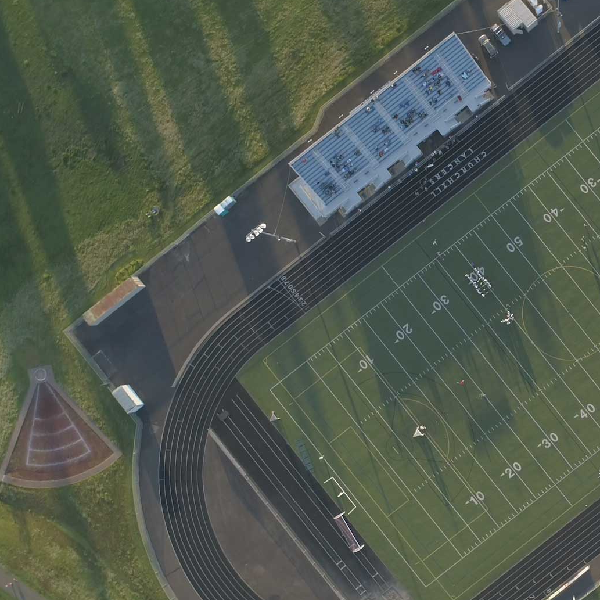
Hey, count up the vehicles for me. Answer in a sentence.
The number of vehicles here is 2.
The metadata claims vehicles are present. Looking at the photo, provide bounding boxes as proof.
[490,21,512,49]
[479,34,499,59]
